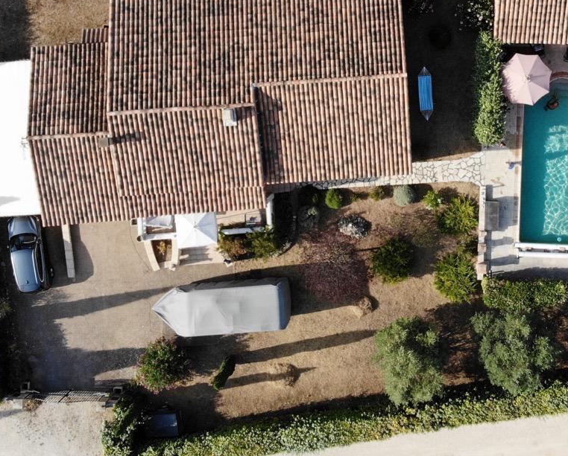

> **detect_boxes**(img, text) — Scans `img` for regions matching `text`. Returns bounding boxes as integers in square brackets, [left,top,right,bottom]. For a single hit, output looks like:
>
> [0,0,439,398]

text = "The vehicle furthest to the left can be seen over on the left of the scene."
[3,216,51,295]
